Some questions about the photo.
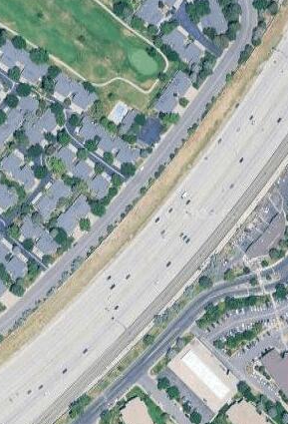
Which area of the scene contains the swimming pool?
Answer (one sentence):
The swimming pool is in the top part of the image.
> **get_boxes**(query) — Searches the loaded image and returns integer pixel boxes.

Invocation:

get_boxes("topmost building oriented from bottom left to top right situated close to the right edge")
[247,213,286,254]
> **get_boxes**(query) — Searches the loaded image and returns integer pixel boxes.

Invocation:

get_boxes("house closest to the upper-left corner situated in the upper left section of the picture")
[0,40,49,84]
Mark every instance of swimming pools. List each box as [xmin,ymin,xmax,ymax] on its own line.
[107,104,128,124]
